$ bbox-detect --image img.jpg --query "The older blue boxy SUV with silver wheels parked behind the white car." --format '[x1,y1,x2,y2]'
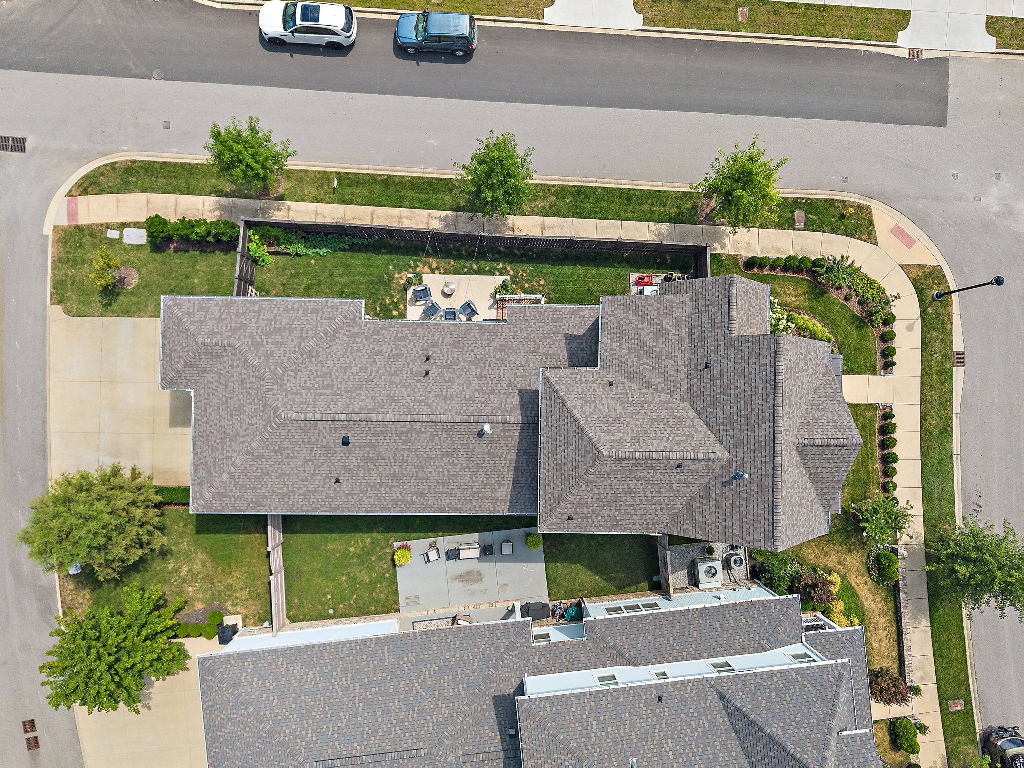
[396,9,477,59]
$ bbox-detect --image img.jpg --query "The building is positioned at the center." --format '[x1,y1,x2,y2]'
[160,276,863,553]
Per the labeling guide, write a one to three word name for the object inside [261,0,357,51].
car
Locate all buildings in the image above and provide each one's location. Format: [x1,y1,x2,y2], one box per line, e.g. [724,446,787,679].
[196,579,884,768]
[160,276,863,553]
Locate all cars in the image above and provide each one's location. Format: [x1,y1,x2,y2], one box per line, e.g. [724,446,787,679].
[396,9,477,59]
[261,0,357,51]
[991,730,1024,768]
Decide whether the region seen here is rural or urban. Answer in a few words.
urban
